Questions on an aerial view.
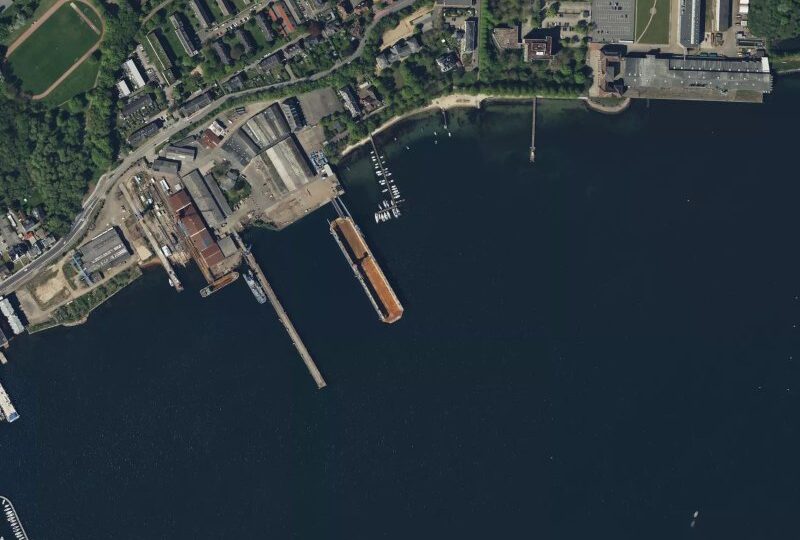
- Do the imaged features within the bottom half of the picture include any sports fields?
No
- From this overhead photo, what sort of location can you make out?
port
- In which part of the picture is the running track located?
top left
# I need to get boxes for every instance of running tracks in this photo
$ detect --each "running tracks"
[1,0,105,99]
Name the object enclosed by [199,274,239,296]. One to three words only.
ship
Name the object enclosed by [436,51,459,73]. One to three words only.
house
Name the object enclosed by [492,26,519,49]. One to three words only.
building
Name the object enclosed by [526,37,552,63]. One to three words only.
building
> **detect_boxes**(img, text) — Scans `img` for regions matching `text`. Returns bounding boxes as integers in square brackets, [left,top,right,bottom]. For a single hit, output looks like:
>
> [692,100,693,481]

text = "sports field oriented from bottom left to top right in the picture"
[5,1,102,95]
